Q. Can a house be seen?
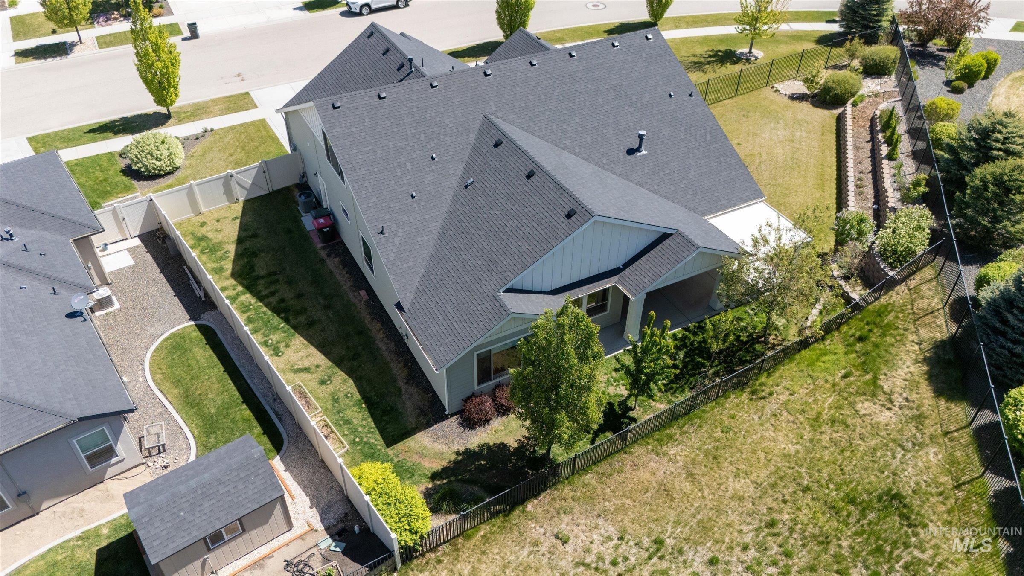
Yes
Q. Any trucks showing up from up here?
No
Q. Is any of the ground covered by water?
No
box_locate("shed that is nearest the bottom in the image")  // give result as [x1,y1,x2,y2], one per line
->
[122,431,292,576]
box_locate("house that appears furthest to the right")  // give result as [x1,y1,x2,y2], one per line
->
[273,21,768,418]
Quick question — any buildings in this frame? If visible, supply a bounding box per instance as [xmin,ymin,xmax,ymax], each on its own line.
[273,21,768,418]
[122,431,292,576]
[0,149,147,531]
